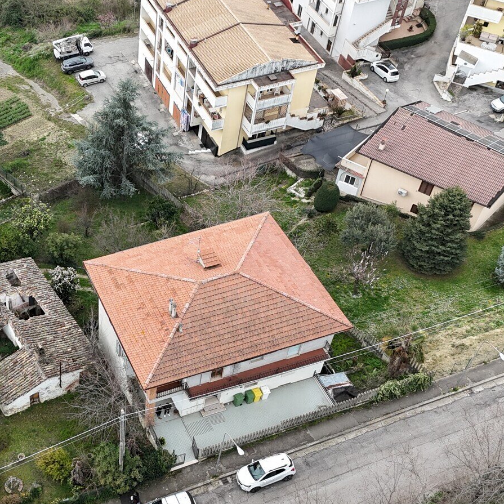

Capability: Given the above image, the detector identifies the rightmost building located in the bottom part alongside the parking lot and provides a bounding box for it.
[84,211,355,428]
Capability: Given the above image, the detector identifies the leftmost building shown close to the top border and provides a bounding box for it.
[134,0,333,165]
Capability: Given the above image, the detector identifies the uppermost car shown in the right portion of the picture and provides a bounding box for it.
[366,56,404,80]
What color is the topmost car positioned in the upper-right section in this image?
white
